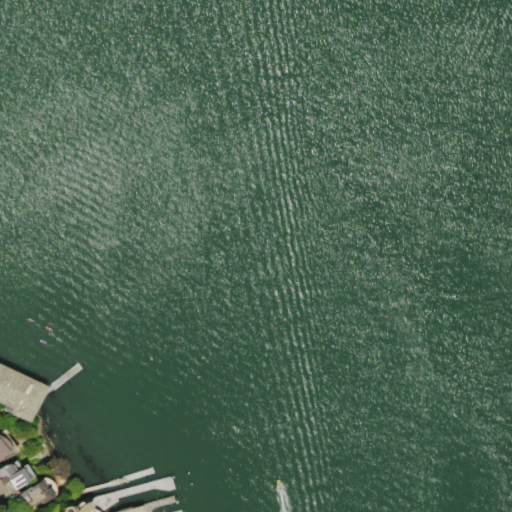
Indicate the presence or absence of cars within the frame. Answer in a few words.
No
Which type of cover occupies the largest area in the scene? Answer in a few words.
water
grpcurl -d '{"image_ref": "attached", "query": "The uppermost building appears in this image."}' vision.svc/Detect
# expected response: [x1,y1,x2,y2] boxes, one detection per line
[0,362,50,422]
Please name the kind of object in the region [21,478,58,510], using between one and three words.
house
